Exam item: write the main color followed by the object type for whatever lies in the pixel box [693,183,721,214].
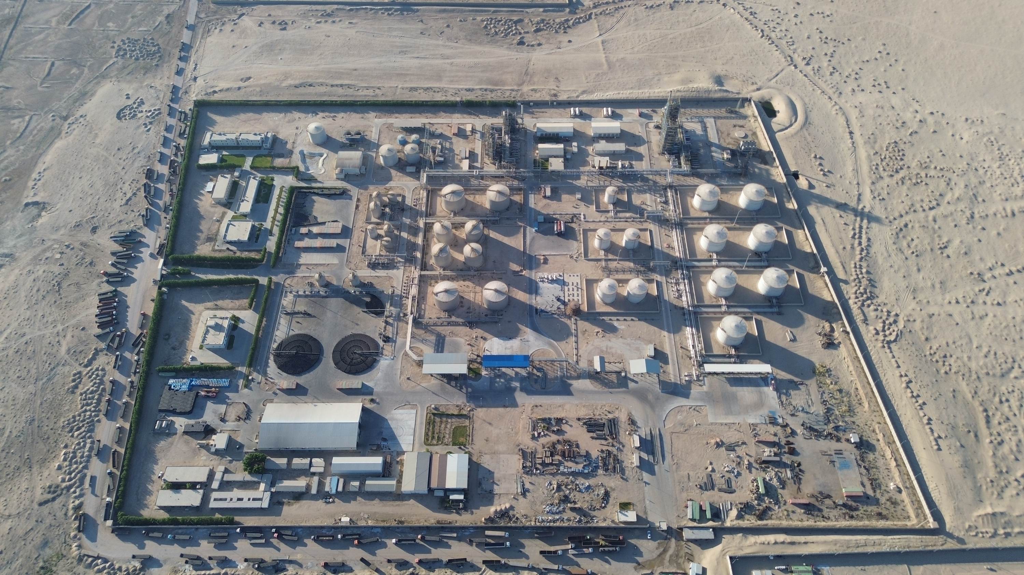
white storage tank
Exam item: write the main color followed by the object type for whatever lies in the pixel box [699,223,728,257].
white storage tank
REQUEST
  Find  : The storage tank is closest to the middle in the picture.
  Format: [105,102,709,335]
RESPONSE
[482,280,510,316]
